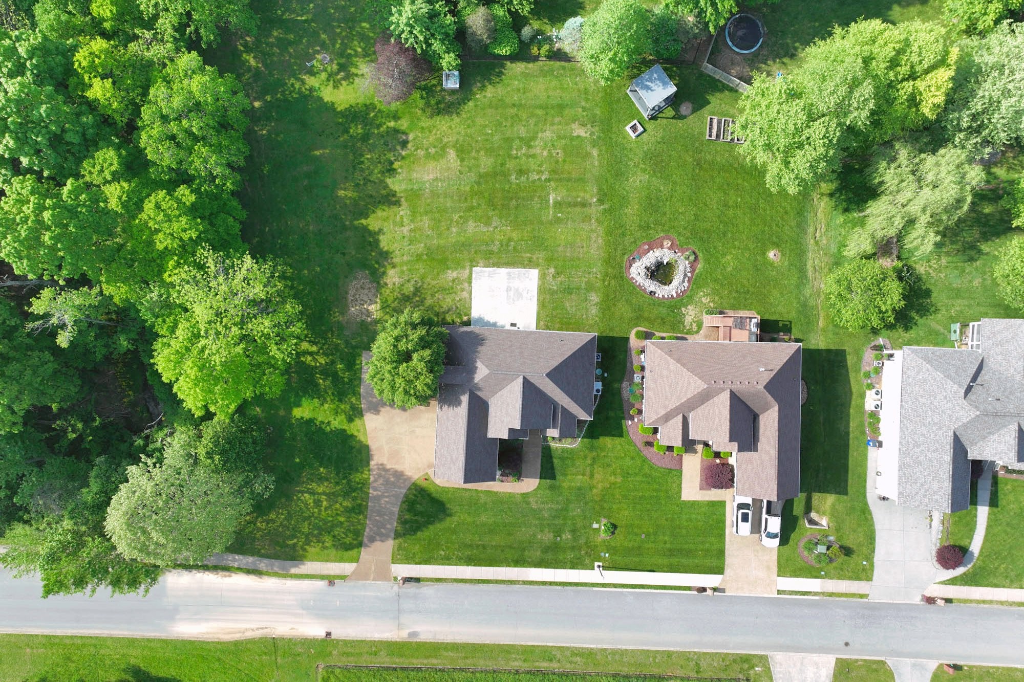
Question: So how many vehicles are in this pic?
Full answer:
There are 2 vehicles in the image.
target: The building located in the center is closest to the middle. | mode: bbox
[433,324,598,484]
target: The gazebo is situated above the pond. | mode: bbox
[626,63,677,118]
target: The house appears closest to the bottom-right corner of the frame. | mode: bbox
[873,318,1024,514]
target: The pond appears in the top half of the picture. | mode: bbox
[625,235,700,300]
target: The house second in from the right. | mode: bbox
[637,337,802,502]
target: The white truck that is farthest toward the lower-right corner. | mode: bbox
[758,499,784,548]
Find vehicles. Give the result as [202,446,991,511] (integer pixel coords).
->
[731,491,756,537]
[758,499,784,548]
